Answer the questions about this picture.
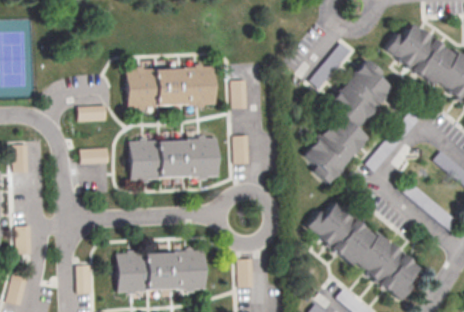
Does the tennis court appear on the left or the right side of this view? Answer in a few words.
left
